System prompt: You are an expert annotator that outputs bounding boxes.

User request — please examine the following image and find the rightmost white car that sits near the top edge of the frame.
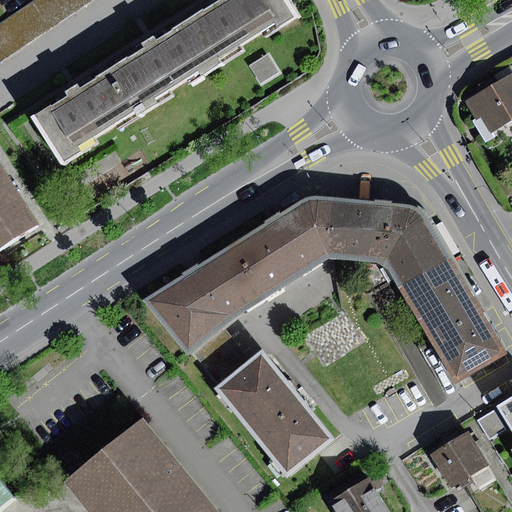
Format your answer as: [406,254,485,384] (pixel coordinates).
[445,20,468,38]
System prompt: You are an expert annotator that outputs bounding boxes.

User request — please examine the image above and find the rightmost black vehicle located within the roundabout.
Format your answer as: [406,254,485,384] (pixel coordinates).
[418,64,433,89]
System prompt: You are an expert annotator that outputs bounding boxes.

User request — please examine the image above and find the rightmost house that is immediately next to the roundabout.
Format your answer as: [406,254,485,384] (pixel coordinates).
[466,71,512,142]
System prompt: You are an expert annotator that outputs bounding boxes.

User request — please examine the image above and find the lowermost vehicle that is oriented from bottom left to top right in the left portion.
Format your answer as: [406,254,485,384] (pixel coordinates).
[146,360,168,378]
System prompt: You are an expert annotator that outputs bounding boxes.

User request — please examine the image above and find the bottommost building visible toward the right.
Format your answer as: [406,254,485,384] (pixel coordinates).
[332,478,390,512]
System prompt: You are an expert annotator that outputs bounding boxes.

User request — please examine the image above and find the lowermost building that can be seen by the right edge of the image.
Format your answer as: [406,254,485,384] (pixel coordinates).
[430,431,496,492]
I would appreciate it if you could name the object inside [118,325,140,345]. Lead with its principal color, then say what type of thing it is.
black car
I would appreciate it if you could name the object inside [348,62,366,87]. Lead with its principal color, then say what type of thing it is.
white vehicle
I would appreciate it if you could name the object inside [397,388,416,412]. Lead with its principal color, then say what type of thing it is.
white car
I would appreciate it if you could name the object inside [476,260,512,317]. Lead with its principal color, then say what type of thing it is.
white bus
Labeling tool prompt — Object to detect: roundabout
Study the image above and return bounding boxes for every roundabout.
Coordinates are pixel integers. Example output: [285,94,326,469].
[323,18,454,154]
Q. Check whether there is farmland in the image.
No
